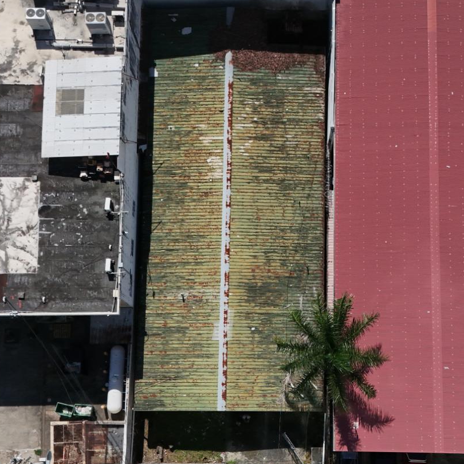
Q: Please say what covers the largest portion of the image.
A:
buildings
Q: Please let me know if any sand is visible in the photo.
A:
No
